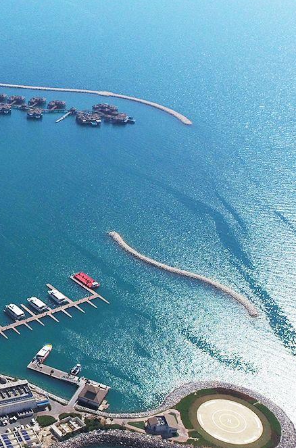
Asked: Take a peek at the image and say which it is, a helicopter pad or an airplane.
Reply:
helicopter pad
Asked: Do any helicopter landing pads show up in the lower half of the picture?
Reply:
Yes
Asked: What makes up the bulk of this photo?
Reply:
water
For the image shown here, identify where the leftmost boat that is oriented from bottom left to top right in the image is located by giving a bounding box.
[32,343,53,363]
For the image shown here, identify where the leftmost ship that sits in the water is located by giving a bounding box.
[6,305,25,320]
